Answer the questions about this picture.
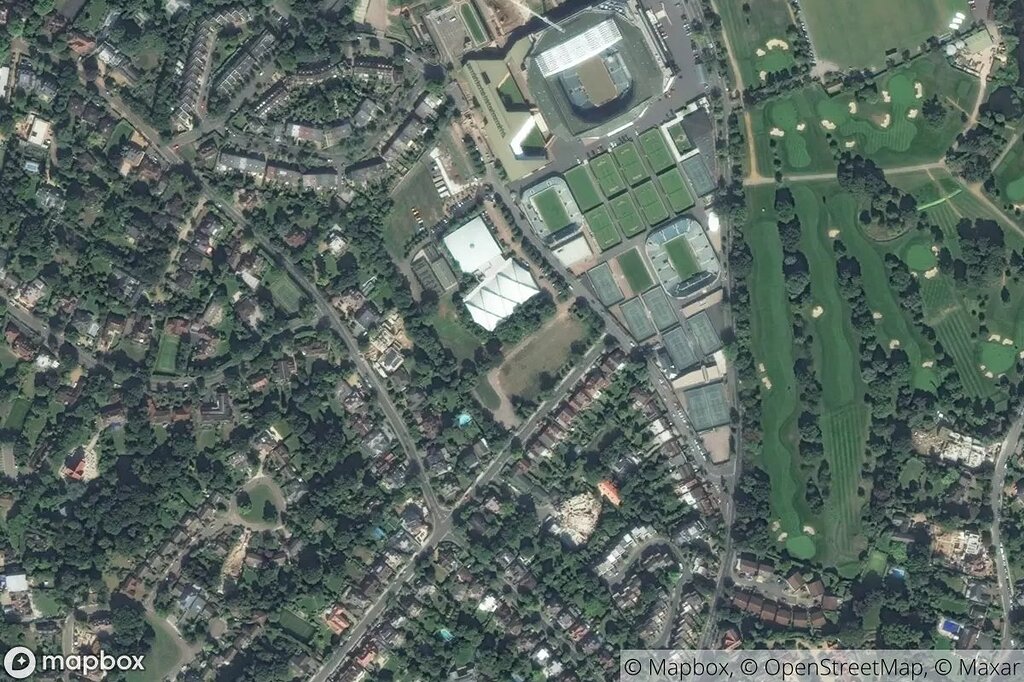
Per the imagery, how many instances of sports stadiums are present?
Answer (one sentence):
The picture shows 3 sports stadiums.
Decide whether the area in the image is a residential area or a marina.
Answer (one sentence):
The picture captures a residential area.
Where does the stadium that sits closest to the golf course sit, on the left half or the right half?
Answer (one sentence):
The stadium that sits closest to the golf course sits on the right side.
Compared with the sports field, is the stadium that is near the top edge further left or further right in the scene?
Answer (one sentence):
The sports field has the stadium that is near the top edge on its left side.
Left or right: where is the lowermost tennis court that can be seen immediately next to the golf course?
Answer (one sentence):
The lowermost tennis court that can be seen immediately next to the golf course appears in the right half of the scene.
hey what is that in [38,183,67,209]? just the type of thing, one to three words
house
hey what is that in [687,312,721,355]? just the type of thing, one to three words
tennis court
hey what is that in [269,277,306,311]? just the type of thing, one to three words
tennis court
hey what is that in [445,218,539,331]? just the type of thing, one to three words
building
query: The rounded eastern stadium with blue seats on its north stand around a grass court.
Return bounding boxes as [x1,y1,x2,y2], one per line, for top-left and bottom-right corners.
[645,215,722,299]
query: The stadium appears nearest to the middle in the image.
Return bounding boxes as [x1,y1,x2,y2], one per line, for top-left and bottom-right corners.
[520,176,584,246]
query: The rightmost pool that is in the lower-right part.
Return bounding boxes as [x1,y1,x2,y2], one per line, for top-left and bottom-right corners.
[942,619,960,635]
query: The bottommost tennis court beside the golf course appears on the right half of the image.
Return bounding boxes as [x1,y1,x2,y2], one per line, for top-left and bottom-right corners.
[683,382,730,431]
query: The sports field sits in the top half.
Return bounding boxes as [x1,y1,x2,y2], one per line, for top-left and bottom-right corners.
[808,0,975,68]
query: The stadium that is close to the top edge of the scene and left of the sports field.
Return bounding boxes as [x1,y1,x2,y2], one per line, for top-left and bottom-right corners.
[526,6,667,137]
